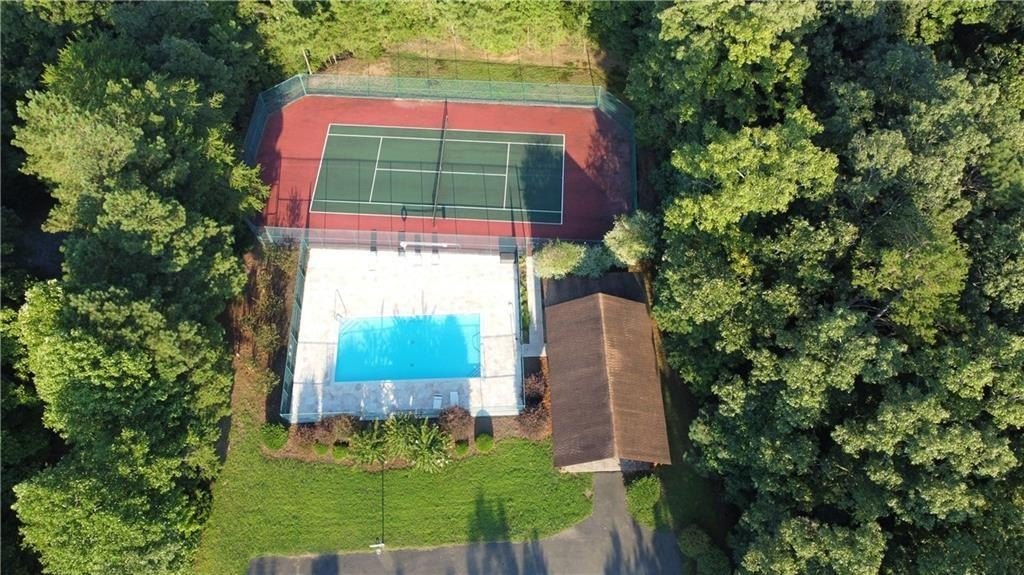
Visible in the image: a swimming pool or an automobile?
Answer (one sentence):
Looking from above, you can make out a swimming pool.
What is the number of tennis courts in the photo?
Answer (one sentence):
The photo contains exactly 1 tennis court.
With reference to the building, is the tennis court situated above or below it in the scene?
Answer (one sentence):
It's above the building that the tennis court shows up.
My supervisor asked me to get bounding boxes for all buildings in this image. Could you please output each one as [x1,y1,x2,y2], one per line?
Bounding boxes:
[544,293,673,472]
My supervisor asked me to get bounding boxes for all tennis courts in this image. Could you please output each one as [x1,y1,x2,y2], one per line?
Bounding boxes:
[245,90,639,258]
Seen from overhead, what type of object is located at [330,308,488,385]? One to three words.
swimming pool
